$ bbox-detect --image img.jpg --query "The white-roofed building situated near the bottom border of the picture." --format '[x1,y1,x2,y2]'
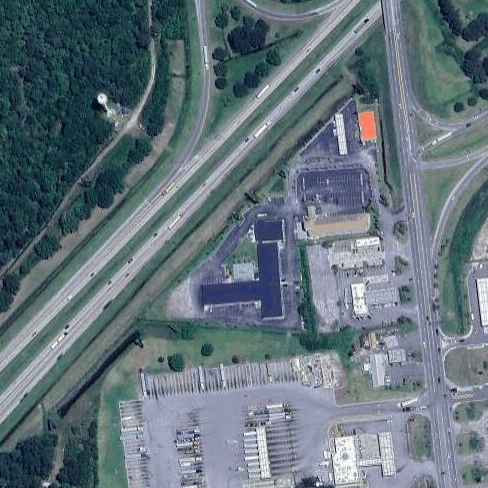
[332,435,359,486]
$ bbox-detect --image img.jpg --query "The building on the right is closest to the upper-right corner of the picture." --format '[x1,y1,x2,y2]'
[358,111,377,142]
